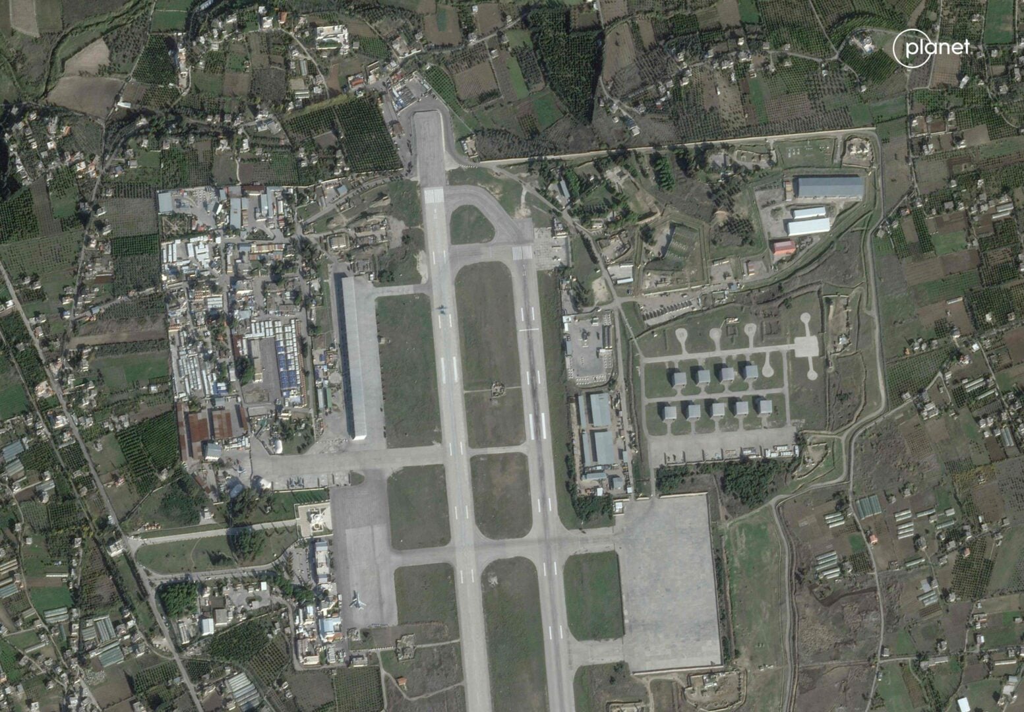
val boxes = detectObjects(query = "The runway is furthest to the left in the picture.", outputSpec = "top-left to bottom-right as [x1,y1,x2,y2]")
[421,187,492,712]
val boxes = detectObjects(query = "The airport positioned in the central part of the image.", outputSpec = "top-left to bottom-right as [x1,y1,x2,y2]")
[221,72,819,712]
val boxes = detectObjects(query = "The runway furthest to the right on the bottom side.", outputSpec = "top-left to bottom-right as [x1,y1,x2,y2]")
[511,242,575,712]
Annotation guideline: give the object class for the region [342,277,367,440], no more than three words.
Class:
hangar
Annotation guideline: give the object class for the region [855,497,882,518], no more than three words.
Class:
greenhouse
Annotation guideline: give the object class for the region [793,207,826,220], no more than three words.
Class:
building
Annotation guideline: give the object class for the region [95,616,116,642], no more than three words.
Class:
greenhouse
